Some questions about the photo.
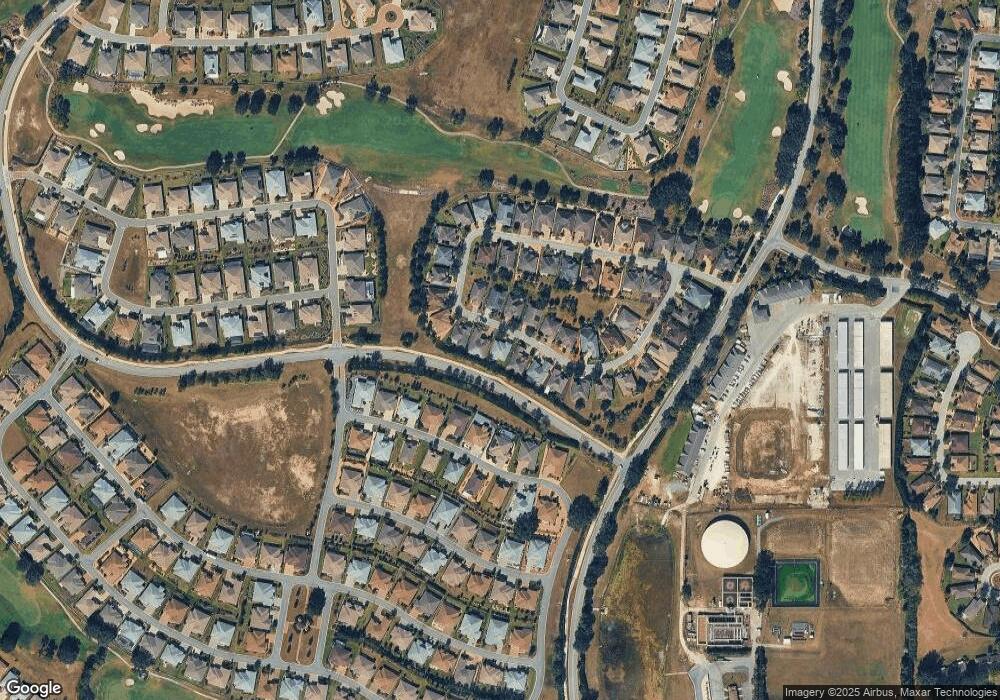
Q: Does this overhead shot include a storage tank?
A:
Yes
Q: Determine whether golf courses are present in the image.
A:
Yes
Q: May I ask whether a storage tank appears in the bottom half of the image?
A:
Yes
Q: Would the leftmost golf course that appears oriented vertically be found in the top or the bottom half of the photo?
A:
top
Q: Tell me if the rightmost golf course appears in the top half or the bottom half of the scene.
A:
top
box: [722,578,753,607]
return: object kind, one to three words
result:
storage tank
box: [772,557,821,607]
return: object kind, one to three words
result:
pond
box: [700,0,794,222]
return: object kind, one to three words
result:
golf course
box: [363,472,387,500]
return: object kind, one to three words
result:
house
